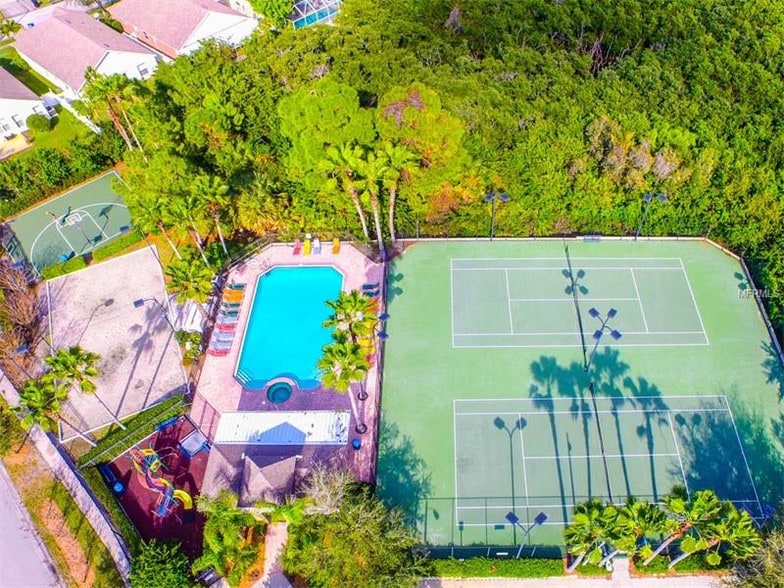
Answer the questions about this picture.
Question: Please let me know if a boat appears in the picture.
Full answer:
No, no boat is visible in the view.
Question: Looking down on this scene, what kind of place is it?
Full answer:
The area seen from above is a sports ground.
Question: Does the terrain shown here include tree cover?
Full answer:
Yes, the picture does contain tree cover.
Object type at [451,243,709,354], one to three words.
tennis court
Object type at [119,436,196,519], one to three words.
playground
